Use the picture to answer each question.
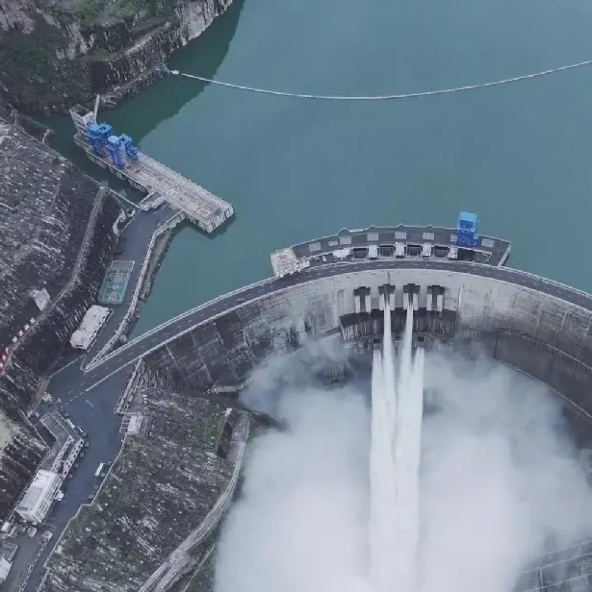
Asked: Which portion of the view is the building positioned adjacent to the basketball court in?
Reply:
left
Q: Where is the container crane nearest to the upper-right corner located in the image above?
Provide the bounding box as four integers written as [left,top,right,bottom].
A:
[457,218,478,249]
